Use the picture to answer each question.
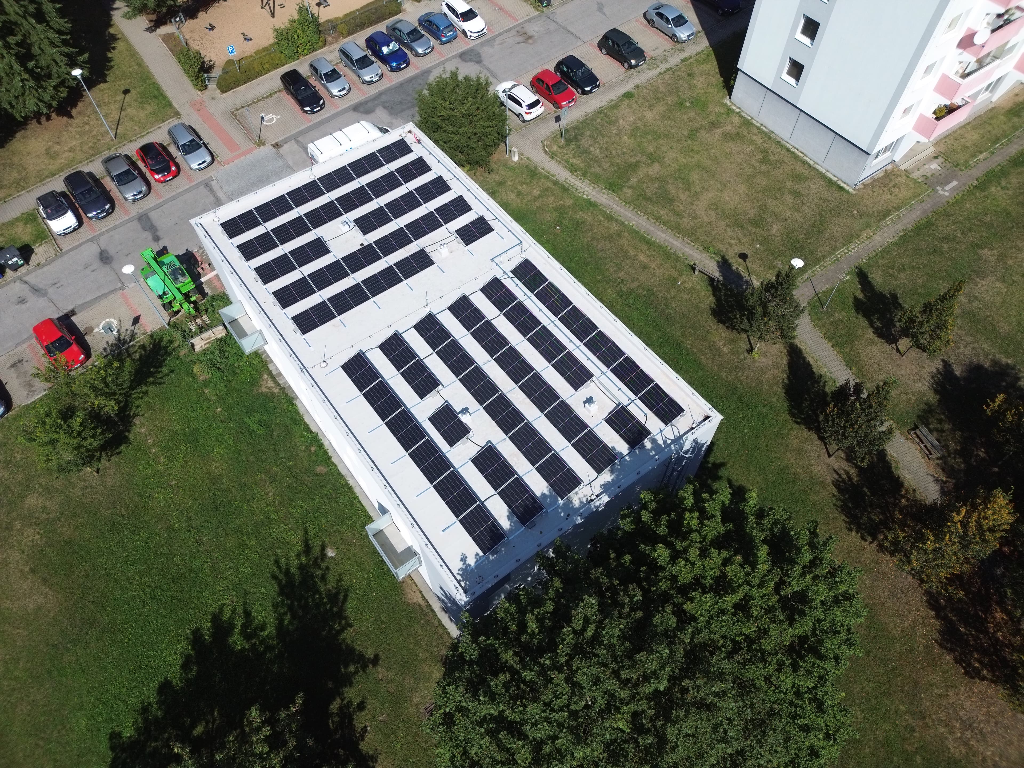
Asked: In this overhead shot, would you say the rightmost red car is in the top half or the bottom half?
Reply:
top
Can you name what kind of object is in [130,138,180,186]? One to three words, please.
car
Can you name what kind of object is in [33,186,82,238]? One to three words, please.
car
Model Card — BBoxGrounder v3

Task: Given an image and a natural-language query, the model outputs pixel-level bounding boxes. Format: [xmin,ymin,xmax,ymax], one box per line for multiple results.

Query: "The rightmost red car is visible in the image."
[529,66,581,110]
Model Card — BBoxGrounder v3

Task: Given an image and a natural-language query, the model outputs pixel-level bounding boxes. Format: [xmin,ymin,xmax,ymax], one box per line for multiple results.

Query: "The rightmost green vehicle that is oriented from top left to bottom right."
[139,247,211,337]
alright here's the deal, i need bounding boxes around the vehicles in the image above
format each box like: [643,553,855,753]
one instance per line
[529,66,581,110]
[33,186,82,238]
[274,66,328,114]
[387,16,438,57]
[24,308,89,372]
[644,2,700,43]
[492,77,548,122]
[60,165,114,224]
[362,28,414,72]
[139,247,211,337]
[304,54,354,99]
[553,53,605,95]
[162,120,214,172]
[436,0,491,39]
[311,118,392,165]
[598,28,651,70]
[96,148,150,205]
[333,38,386,85]
[130,138,180,186]
[415,10,461,46]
